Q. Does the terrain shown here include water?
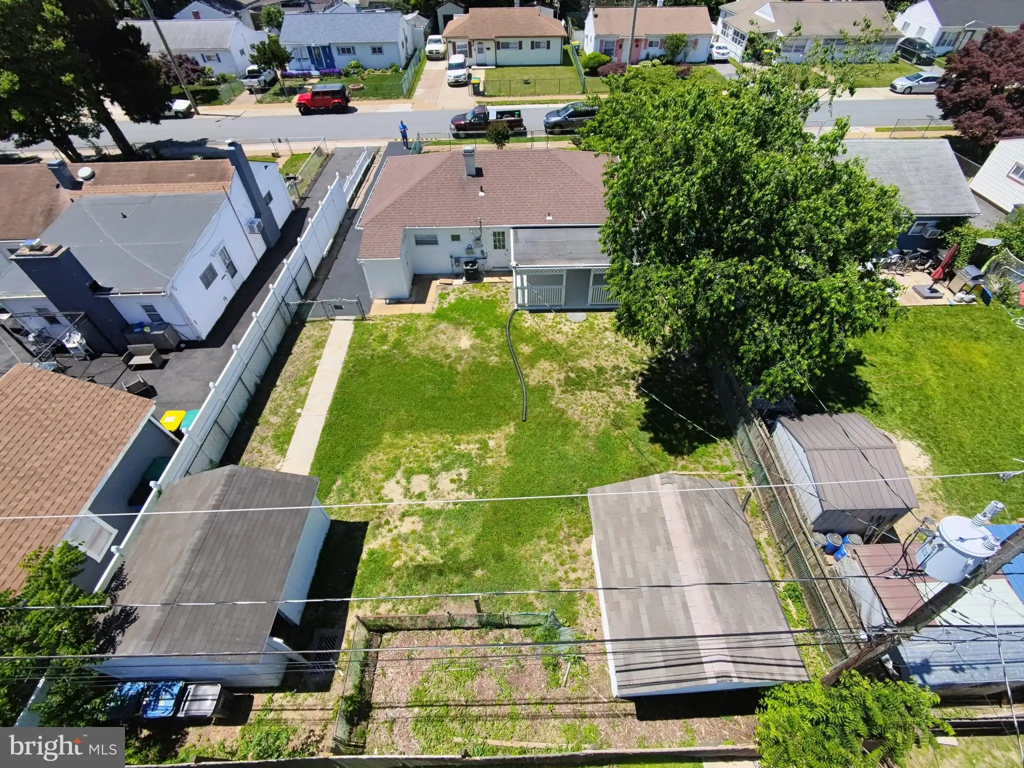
No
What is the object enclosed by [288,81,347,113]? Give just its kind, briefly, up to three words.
car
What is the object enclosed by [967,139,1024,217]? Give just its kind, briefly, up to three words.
house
